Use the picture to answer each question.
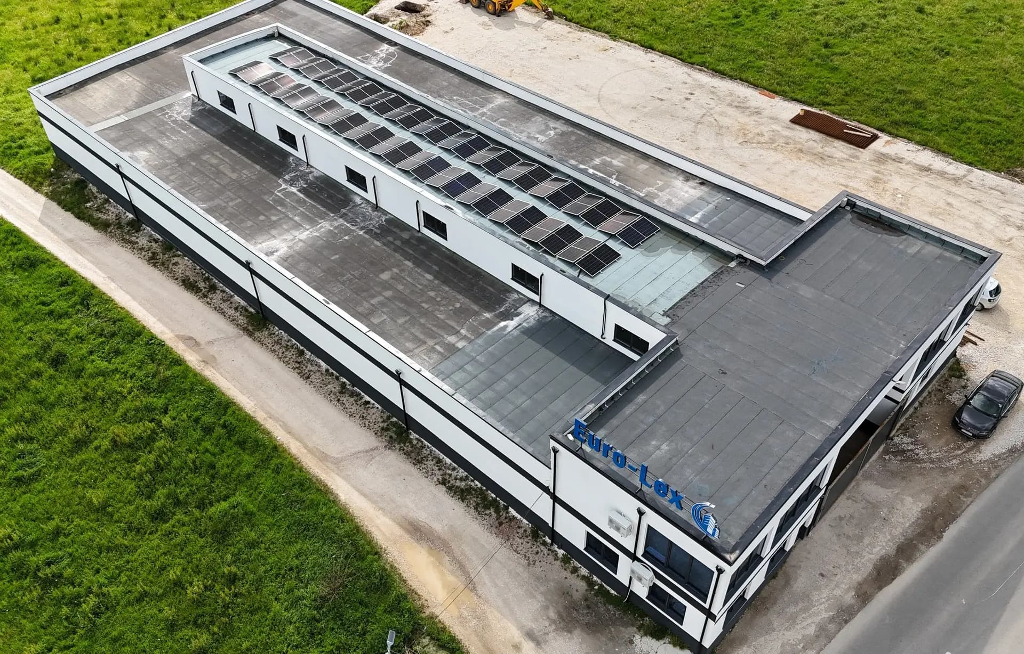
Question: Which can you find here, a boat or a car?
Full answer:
There is a car in the scene.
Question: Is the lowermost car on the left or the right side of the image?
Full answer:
The lowermost car is on the right side of the image.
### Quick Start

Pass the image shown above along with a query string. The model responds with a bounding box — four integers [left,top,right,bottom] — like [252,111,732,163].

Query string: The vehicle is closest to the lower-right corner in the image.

[955,371,1023,443]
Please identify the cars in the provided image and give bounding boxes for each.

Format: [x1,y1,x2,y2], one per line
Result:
[975,277,1003,311]
[955,371,1023,443]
